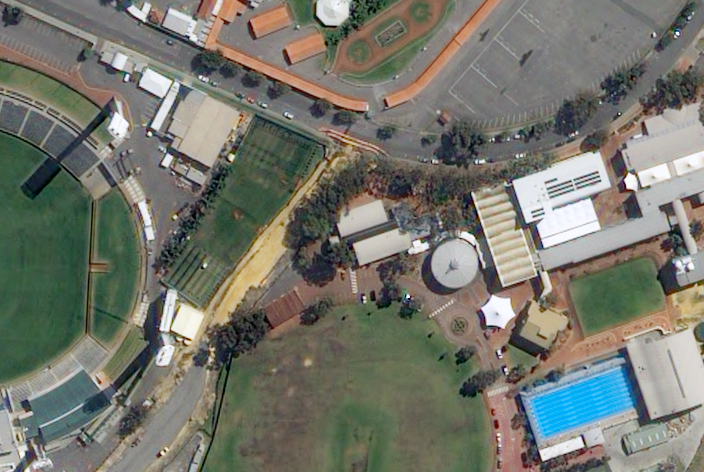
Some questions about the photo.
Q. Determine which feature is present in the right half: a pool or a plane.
pool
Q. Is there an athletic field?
Yes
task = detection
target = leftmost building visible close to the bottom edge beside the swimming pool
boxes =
[538,436,586,461]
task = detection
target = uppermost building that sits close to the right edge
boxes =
[634,97,704,143]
